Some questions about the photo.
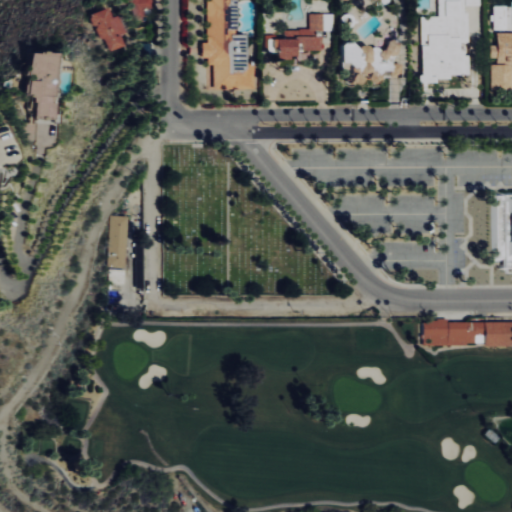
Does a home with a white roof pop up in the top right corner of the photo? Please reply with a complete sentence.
Yes, a home with a white roof appears in the top right corner of the photo.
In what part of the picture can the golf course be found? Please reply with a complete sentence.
Look in the bottom portion of the view to spot the golf course.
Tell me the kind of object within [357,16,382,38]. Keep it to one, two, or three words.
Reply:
swimming pool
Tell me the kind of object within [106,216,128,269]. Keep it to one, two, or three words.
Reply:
shed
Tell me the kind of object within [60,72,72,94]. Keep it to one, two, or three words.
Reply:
swimming pool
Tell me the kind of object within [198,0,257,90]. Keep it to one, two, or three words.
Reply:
building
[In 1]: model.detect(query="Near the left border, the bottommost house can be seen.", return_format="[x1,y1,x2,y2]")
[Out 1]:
[26,53,62,120]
